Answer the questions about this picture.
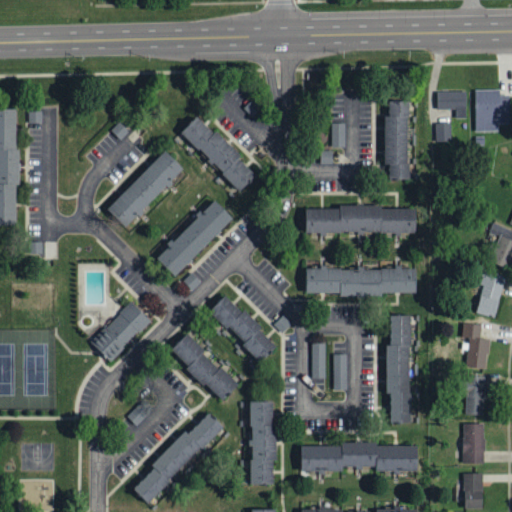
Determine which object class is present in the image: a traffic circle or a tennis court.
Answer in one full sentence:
Of the two, only a tennis court appears.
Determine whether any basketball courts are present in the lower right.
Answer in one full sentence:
No, there is no basketball court in the lower right.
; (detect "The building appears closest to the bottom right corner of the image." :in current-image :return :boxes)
[464,473,484,510]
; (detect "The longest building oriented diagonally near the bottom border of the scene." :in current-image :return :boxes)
[133,413,224,506]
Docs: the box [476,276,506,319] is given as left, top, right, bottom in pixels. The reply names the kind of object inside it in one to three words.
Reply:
house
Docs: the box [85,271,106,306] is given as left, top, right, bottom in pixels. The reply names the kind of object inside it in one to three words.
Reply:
swimming pool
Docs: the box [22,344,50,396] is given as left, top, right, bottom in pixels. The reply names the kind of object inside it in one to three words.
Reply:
tennis court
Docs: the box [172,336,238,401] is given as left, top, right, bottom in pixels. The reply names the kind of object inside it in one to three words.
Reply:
building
